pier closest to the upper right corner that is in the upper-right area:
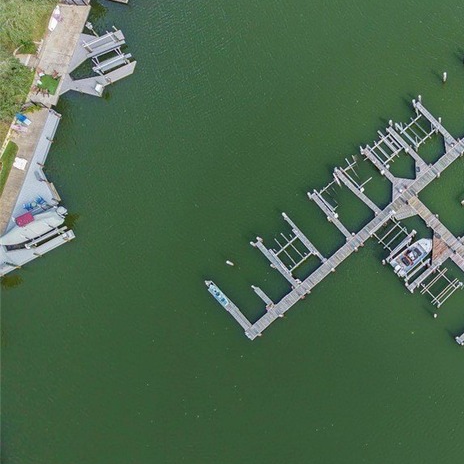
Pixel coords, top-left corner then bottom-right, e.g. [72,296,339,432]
[412,94,457,143]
